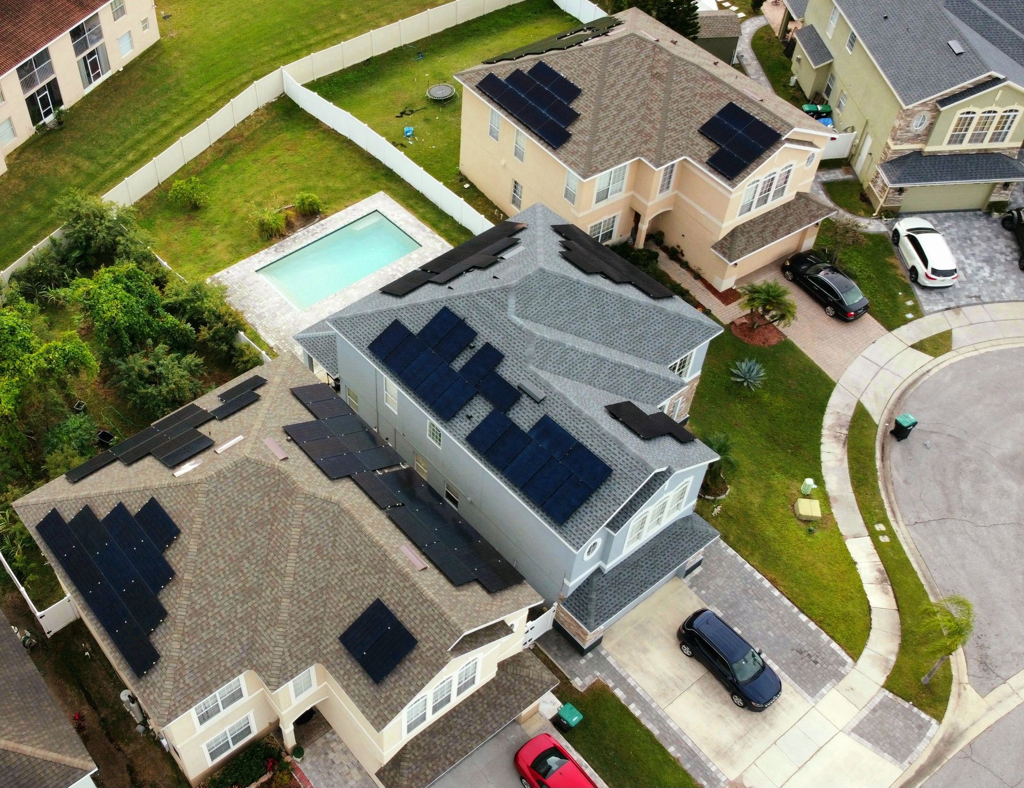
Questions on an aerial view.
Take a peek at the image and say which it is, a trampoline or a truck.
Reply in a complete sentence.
This aerial view contains a trampoline.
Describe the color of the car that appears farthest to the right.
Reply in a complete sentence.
The car that appears farthest to the right is black.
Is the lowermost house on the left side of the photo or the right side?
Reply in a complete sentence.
The lowermost house is on the left side of the image.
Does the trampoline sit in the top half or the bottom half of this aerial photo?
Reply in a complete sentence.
The trampoline is in the top half of the image.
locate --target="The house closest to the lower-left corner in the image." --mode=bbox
[0,621,101,788]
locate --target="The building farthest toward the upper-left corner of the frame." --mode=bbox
[0,0,160,168]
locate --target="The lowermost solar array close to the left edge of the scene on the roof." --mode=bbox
[32,499,180,678]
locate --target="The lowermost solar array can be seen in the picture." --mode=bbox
[339,601,416,684]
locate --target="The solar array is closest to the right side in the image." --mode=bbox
[700,103,779,178]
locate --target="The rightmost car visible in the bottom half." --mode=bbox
[672,606,783,717]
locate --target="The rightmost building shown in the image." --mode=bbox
[781,0,1024,217]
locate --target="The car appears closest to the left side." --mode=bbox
[510,732,603,788]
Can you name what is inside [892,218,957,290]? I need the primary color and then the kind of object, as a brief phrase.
white car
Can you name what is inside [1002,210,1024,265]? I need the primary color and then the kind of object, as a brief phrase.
black car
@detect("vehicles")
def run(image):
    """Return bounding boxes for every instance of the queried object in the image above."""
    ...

[778,249,870,324]
[510,732,603,788]
[1002,210,1024,265]
[892,218,957,290]
[672,606,783,717]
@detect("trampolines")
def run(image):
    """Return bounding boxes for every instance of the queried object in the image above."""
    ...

[426,74,457,108]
